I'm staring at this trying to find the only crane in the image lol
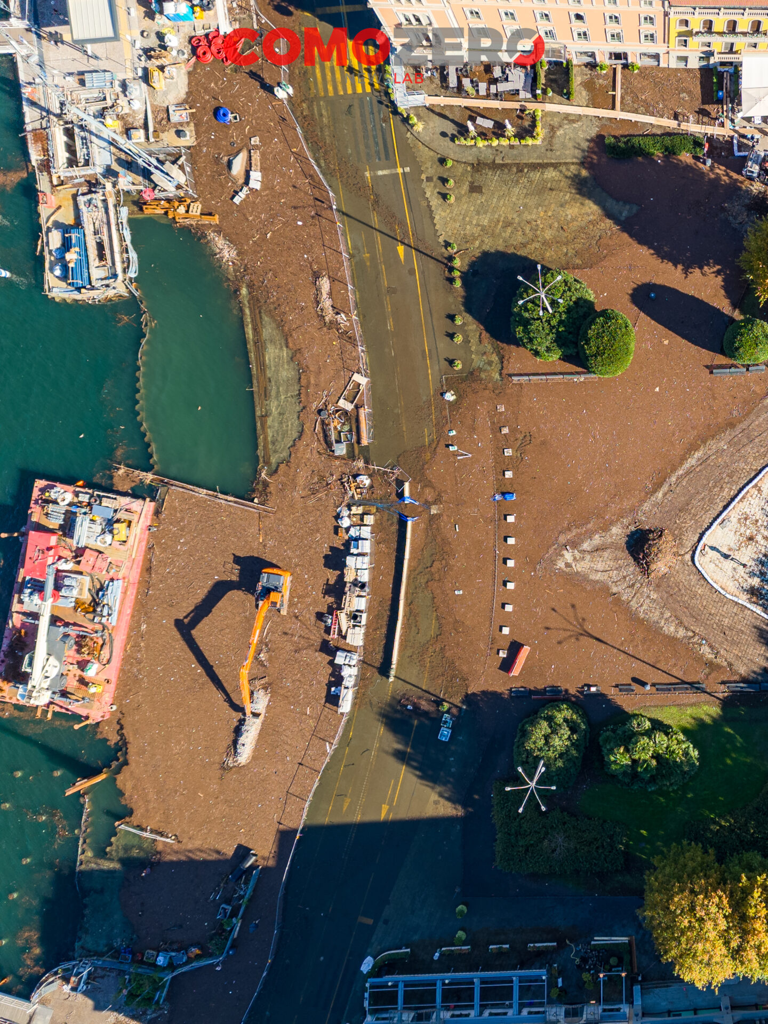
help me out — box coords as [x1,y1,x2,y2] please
[0,3,183,189]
